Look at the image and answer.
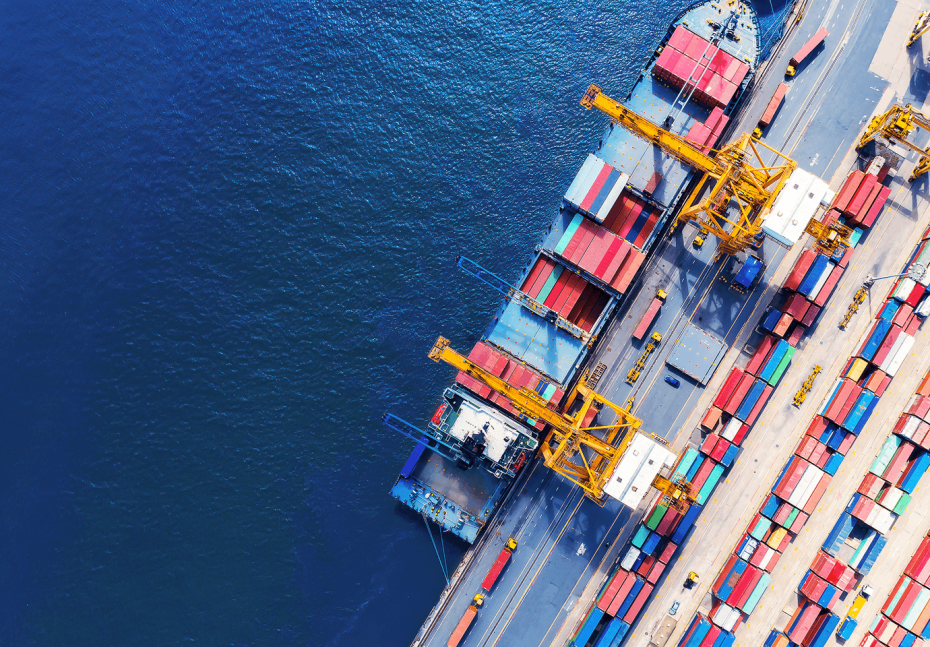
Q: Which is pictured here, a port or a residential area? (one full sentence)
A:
This looks like a port.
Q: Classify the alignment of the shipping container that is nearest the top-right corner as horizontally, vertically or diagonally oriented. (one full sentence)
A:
From this overhead view, the shipping container that is nearest the top-right corner appears to run diagonally.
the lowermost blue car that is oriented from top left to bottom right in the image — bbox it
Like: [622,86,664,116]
[664,375,679,388]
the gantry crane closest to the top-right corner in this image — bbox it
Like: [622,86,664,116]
[905,7,930,50]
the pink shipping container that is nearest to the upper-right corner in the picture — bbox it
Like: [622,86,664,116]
[789,27,829,66]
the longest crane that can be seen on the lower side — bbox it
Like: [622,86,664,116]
[429,336,708,521]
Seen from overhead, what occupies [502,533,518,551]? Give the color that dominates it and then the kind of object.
yellow vehicle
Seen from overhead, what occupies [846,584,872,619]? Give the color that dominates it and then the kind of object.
yellow truck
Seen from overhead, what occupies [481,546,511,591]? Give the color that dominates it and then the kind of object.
red shipping container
